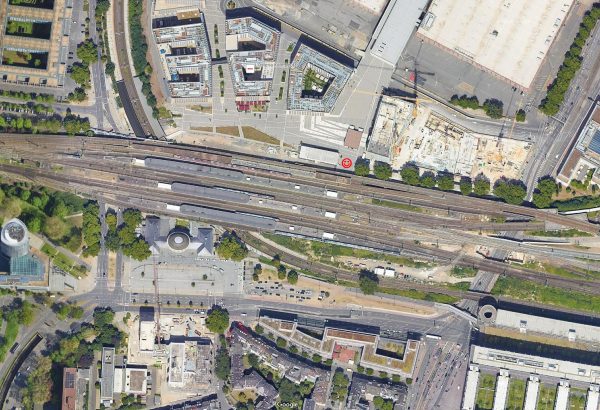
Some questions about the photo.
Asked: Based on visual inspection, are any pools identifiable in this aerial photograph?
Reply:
No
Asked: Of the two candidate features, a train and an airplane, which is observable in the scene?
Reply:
train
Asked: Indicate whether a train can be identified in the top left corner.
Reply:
No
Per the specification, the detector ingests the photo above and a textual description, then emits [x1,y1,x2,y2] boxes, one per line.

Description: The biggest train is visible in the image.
[274,230,401,258]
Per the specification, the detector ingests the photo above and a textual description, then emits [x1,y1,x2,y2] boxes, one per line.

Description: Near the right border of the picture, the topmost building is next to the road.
[416,0,577,94]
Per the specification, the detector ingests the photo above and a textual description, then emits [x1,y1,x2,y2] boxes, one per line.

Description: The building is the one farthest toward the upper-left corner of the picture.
[0,0,73,92]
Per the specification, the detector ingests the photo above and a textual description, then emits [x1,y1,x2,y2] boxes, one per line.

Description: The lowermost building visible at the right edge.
[472,346,600,385]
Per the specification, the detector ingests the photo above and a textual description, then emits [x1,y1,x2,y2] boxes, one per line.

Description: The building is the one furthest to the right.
[558,102,600,184]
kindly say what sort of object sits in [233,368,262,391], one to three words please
house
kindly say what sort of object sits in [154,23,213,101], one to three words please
building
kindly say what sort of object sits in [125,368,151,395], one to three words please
house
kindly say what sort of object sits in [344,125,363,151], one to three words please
building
